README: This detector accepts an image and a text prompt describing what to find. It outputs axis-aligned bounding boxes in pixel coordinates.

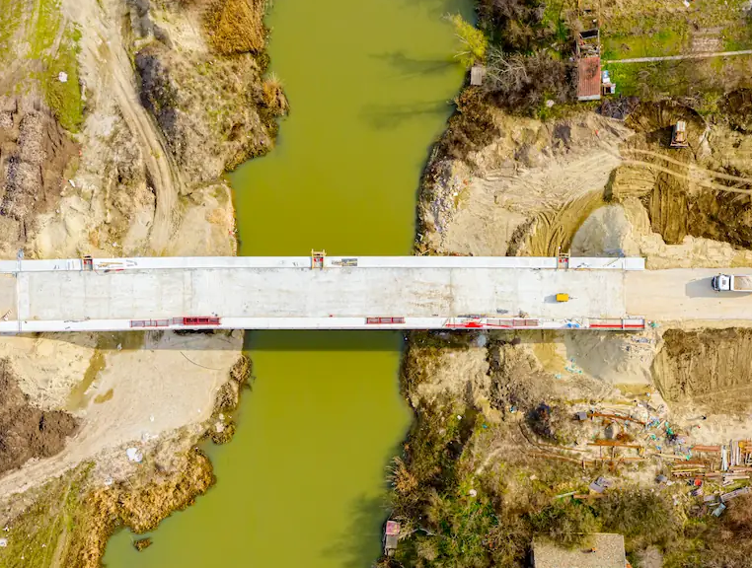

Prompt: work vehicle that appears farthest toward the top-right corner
[665,123,686,151]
